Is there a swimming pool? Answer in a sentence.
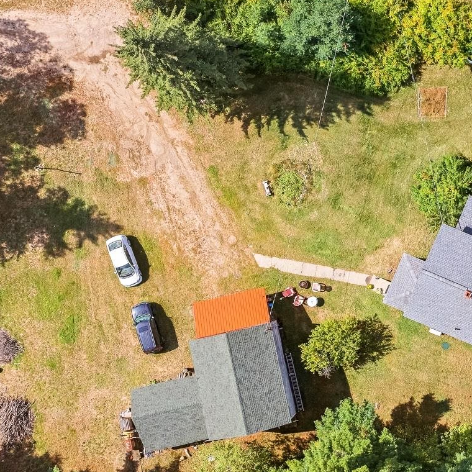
No, there's no swimming pool here.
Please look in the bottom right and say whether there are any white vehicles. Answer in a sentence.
No, the scene shows no white vehicle in the bottom right.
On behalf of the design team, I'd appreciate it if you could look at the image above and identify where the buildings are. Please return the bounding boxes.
[132,288,298,451]
[382,194,472,342]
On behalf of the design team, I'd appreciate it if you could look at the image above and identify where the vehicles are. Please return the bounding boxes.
[107,235,143,288]
[134,299,168,353]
